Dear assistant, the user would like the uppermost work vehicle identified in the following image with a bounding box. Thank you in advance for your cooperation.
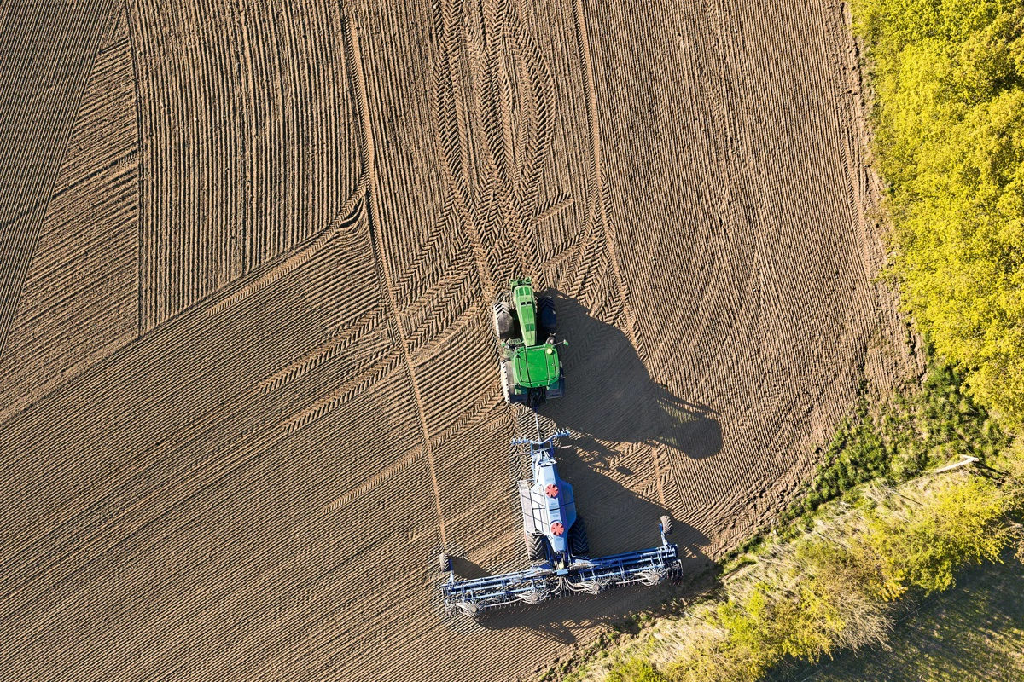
[493,276,568,410]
